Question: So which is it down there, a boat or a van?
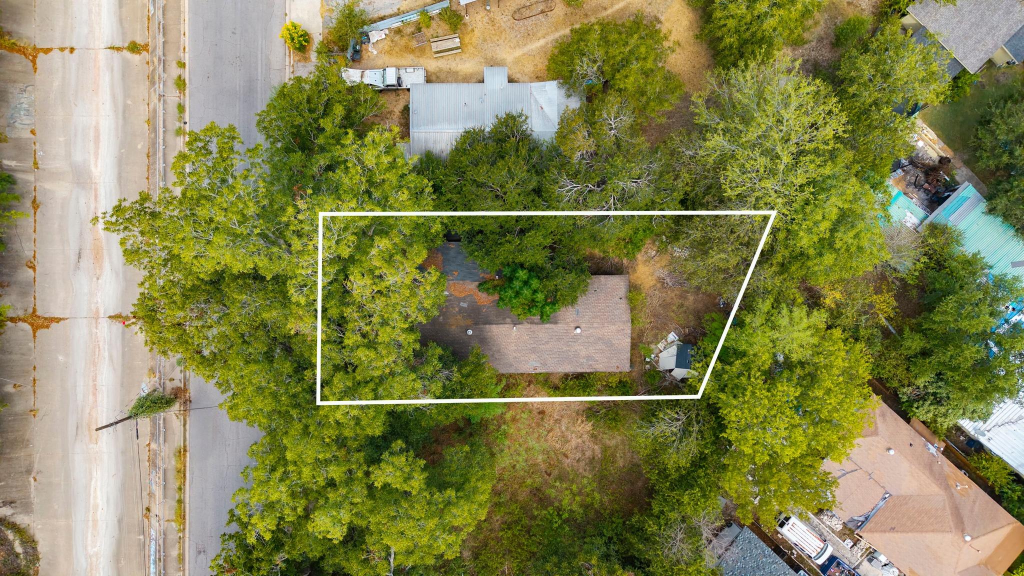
van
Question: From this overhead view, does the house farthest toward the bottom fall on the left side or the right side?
right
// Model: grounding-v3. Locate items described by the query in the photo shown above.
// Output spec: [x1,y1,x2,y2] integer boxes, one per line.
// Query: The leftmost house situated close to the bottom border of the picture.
[703,523,794,576]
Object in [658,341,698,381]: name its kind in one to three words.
shed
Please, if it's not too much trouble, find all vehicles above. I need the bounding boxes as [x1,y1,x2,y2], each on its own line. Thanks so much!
[821,546,867,576]
[342,64,429,90]
[774,511,833,567]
